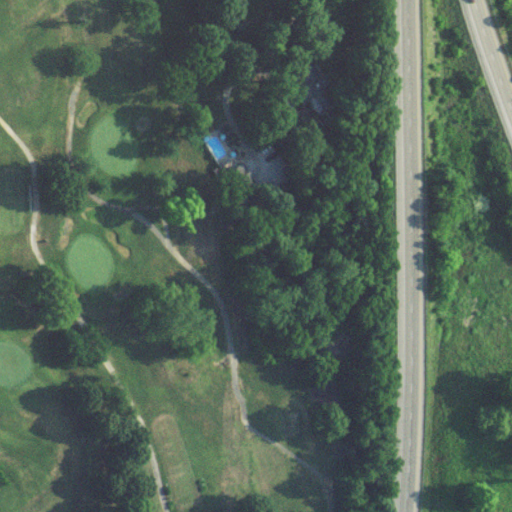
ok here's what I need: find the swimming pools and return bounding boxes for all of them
[208,136,226,162]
